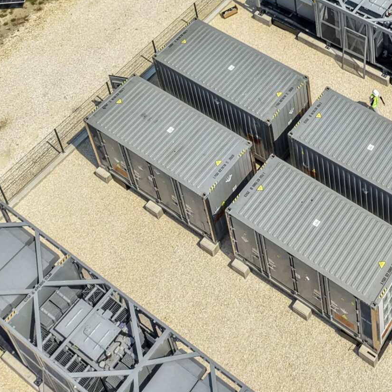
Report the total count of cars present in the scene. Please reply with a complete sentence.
The count of cars is 0.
